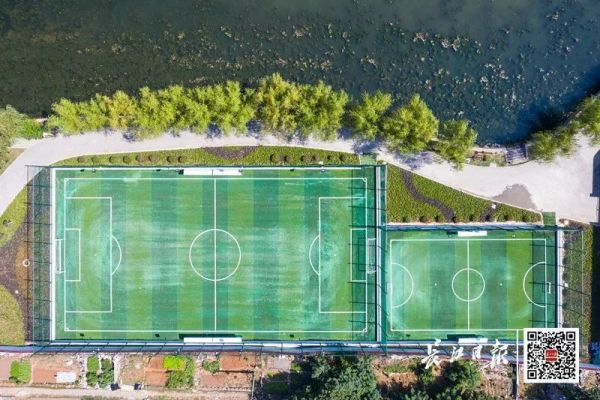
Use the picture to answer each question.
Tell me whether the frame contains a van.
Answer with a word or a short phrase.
No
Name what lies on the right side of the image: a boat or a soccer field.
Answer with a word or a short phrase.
soccer field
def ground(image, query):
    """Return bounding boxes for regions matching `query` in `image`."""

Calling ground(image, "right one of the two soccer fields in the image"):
[381,230,557,341]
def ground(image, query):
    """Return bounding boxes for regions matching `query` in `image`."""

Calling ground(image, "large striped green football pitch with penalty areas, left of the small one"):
[55,165,377,341]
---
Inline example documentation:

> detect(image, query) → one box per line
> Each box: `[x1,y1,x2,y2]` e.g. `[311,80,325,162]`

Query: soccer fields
[55,165,377,341]
[381,230,557,341]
